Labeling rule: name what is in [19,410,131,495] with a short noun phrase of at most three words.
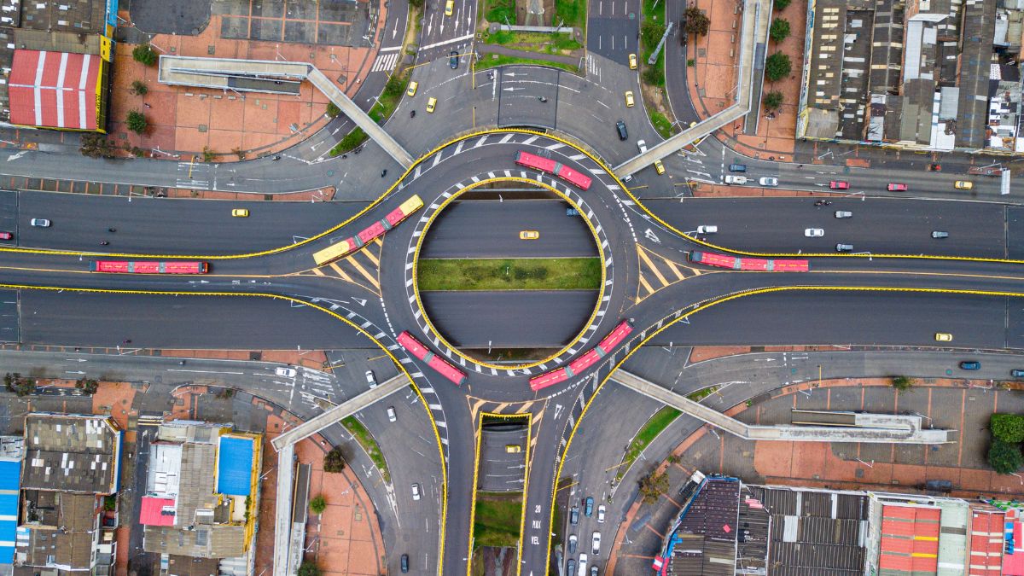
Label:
building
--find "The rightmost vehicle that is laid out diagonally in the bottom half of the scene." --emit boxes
[632,513,651,531]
